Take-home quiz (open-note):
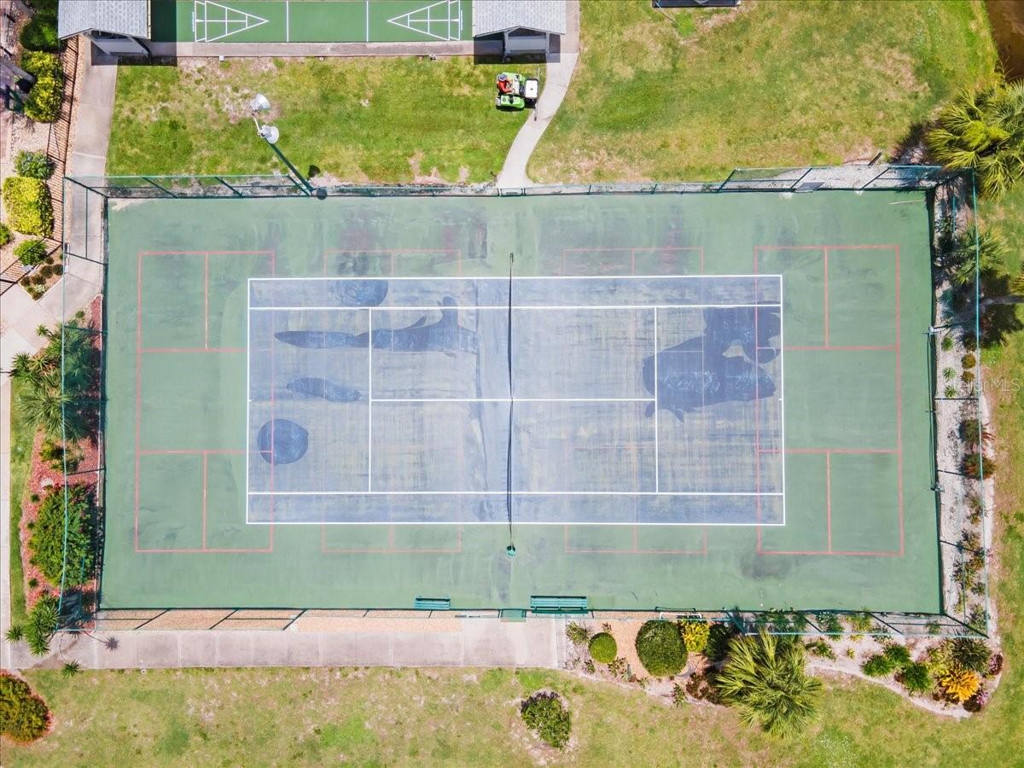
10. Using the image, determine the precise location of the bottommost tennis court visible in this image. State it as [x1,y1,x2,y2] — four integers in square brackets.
[99,189,942,613]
